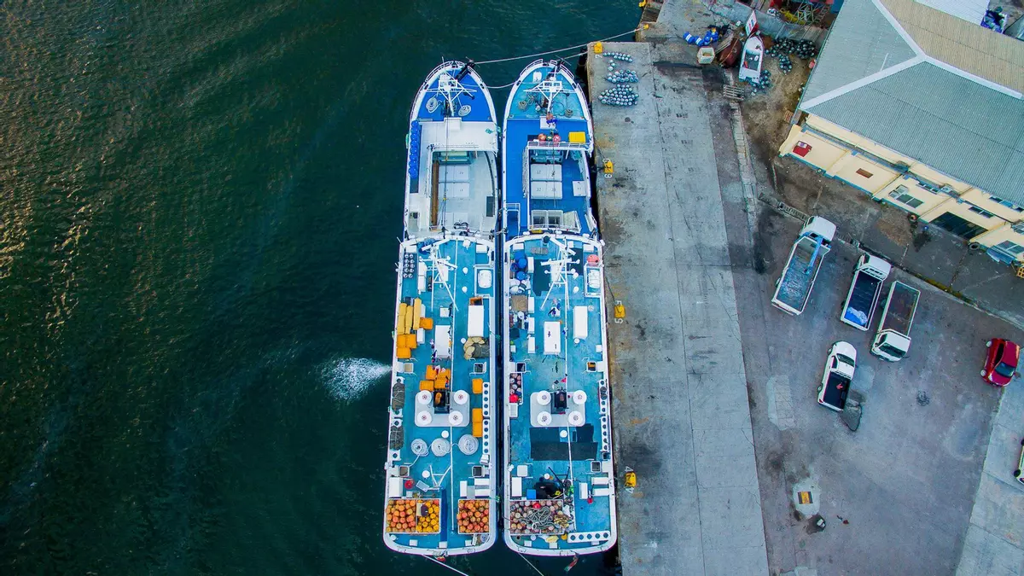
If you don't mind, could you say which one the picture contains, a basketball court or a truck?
truck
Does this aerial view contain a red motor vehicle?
Yes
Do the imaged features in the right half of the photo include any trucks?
Yes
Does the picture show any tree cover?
No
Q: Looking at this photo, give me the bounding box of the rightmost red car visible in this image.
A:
[979,334,1024,386]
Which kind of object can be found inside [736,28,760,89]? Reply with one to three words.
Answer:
boat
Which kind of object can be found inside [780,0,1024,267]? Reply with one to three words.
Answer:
warehouse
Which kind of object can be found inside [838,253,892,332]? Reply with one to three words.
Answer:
truck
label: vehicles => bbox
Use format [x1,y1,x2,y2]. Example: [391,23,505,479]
[838,253,892,332]
[867,283,920,367]
[979,334,1024,386]
[769,216,839,318]
[814,341,857,417]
